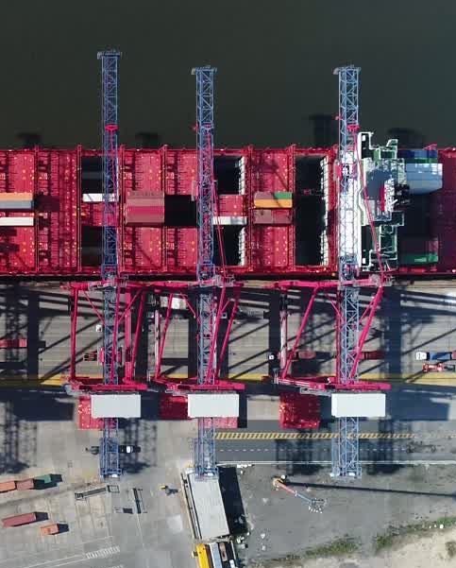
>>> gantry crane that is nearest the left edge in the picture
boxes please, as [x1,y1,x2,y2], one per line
[54,48,154,481]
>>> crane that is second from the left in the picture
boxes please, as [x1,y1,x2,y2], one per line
[141,65,252,481]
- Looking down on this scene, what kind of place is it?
port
